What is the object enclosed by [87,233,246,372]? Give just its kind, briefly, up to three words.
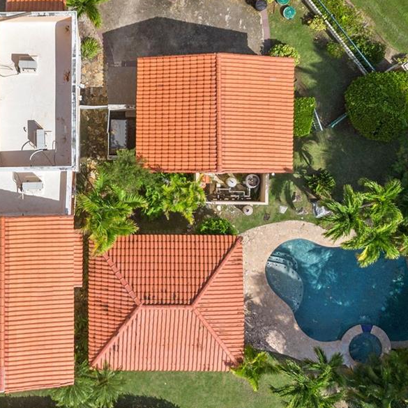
building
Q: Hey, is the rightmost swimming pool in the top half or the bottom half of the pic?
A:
bottom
